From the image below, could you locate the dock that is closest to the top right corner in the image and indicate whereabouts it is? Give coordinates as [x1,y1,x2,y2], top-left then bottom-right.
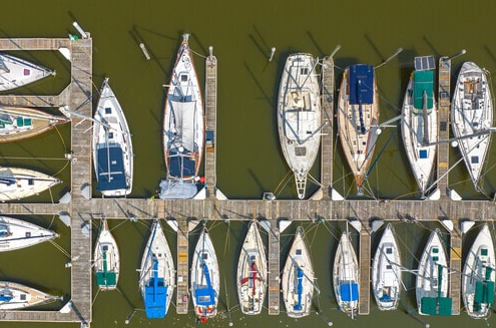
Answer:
[436,56,450,199]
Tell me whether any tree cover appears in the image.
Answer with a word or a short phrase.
No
